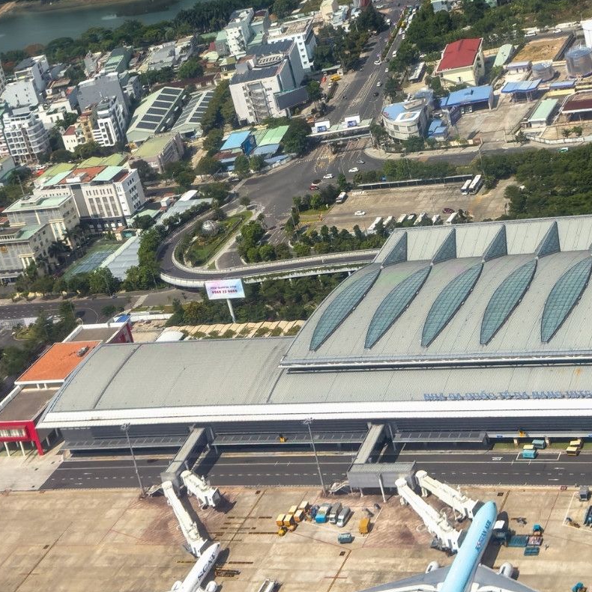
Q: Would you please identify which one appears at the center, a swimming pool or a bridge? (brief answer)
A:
bridge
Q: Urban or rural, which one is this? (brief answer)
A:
urban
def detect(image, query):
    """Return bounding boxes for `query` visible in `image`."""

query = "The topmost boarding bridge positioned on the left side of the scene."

[184,468,228,517]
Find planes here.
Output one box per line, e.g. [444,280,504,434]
[340,501,549,592]
[144,545,221,592]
